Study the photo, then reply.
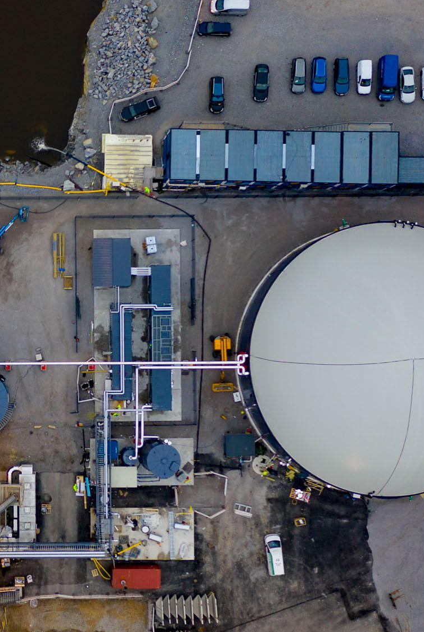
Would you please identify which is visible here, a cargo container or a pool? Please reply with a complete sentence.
This aerial view contains a cargo container.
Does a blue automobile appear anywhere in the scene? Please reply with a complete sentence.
Yes, this view includes a blue automobile.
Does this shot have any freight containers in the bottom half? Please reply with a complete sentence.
Yes, a freight container is visible in the bottom half.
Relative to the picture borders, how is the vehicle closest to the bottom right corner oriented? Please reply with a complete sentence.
Seen from above, the vehicle closest to the bottom right corner lies from top to bottom.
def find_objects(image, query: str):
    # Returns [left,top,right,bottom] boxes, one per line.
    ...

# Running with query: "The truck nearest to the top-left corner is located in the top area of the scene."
[119,95,161,123]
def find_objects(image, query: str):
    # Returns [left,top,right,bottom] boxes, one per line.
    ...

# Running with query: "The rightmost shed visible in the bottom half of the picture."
[219,432,255,463]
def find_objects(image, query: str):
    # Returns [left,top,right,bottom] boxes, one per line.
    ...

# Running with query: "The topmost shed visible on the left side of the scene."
[101,133,153,191]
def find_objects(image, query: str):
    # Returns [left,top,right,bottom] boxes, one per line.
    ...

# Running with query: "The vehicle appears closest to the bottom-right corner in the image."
[264,534,286,578]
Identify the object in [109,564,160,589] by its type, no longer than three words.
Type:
shipping container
